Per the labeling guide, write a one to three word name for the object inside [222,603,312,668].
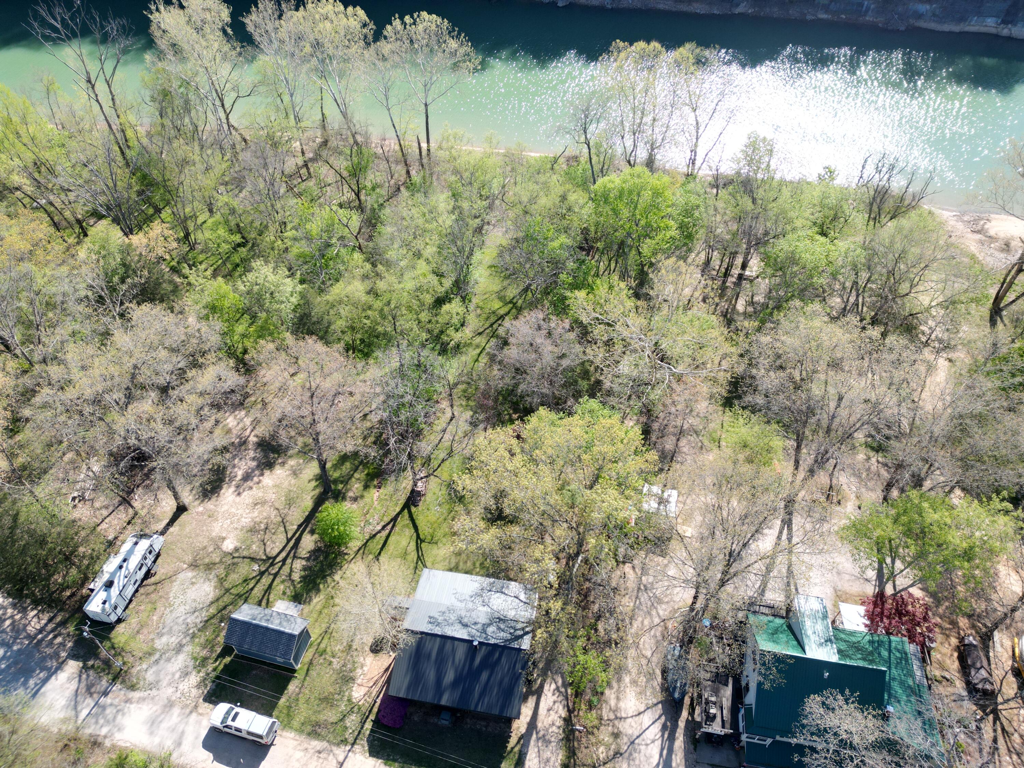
shed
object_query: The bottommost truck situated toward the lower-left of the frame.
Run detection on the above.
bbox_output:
[204,702,283,748]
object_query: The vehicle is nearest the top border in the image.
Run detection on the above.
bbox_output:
[84,532,165,629]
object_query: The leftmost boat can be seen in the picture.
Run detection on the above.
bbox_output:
[661,638,687,716]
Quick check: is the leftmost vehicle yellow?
No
